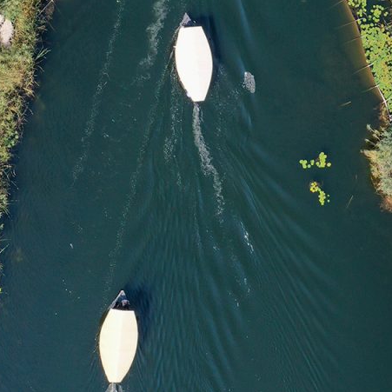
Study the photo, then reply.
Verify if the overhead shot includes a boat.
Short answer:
Yes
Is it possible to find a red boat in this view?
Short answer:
No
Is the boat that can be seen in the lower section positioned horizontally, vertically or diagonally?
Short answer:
vertically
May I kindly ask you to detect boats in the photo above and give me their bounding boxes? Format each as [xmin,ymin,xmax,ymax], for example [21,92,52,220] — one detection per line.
[172,14,212,107]
[100,291,137,383]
